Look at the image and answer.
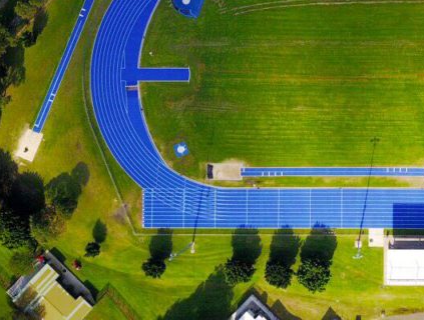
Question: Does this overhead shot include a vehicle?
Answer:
No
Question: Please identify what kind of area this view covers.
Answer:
sports ground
